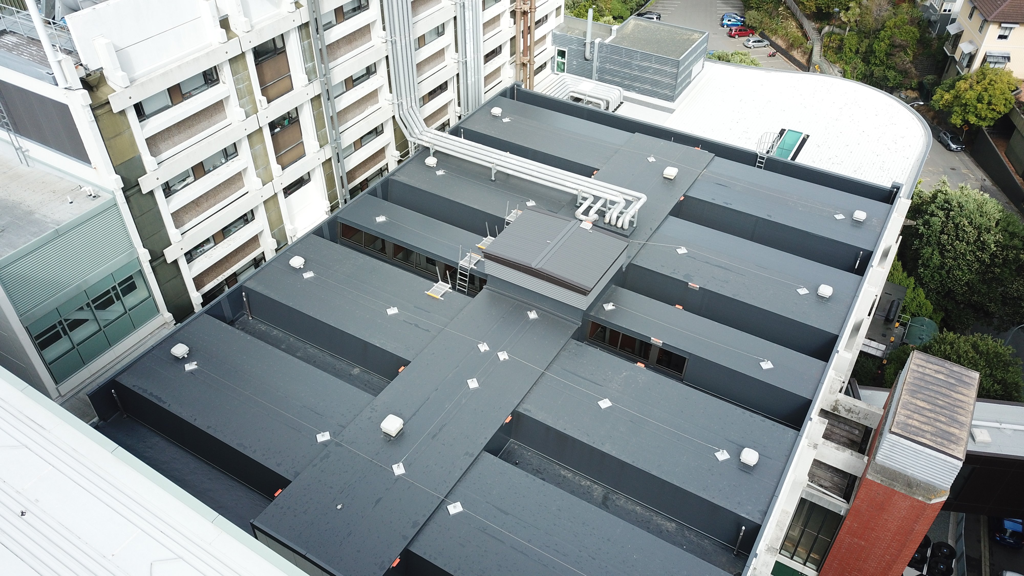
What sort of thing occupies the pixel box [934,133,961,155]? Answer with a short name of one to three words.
car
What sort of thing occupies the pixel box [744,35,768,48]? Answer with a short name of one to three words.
vehicle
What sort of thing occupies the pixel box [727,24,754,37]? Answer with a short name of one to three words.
vehicle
